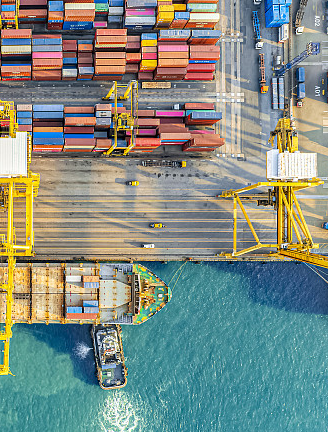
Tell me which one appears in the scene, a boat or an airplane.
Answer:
boat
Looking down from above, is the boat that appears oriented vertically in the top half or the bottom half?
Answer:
bottom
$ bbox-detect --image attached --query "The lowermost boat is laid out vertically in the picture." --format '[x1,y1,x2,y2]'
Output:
[93,325,127,391]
